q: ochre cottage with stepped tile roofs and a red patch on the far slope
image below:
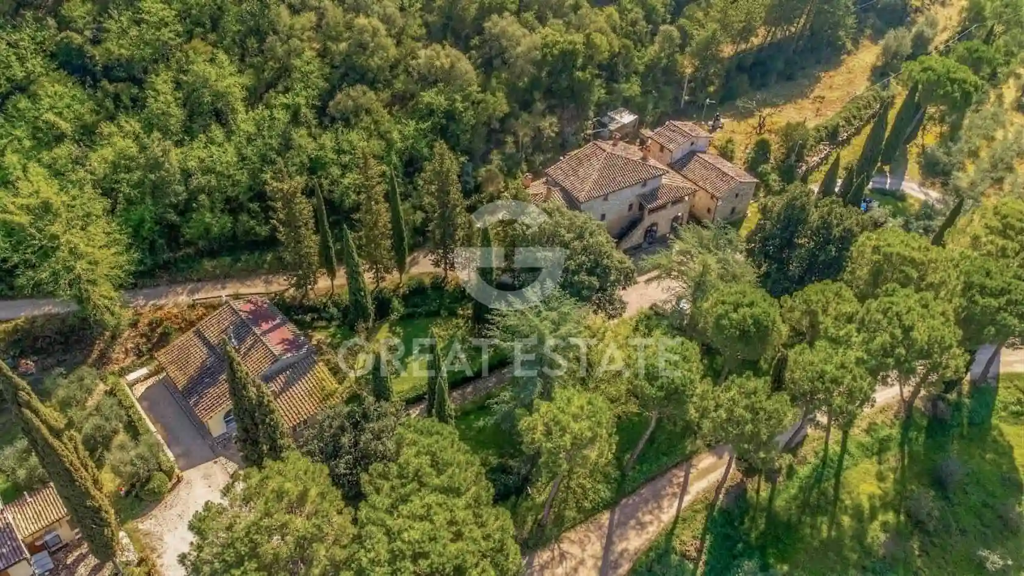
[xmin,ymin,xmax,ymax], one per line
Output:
[152,296,342,440]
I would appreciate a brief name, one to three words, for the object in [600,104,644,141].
shed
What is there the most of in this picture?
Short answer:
trees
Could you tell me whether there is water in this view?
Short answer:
No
